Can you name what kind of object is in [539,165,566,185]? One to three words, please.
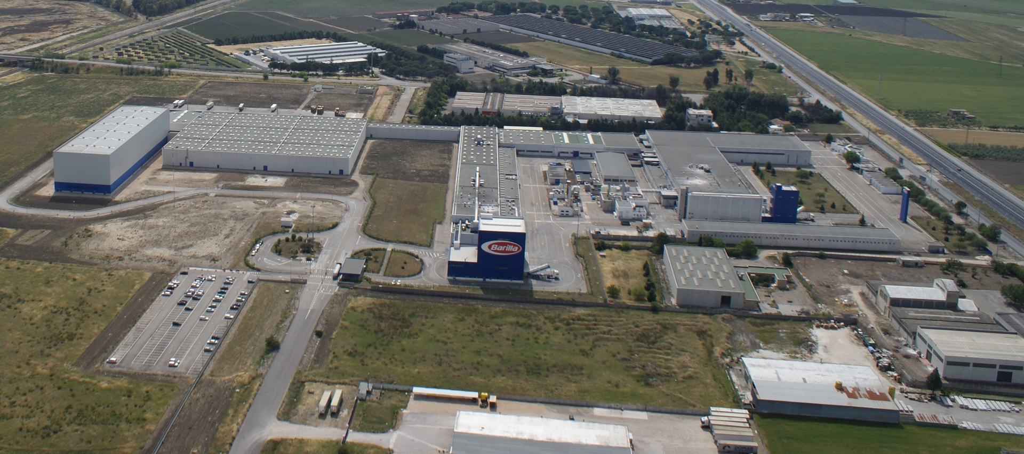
shed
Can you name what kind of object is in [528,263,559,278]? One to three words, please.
vehicle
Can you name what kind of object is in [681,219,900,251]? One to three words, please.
building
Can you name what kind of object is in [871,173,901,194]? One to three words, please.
building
